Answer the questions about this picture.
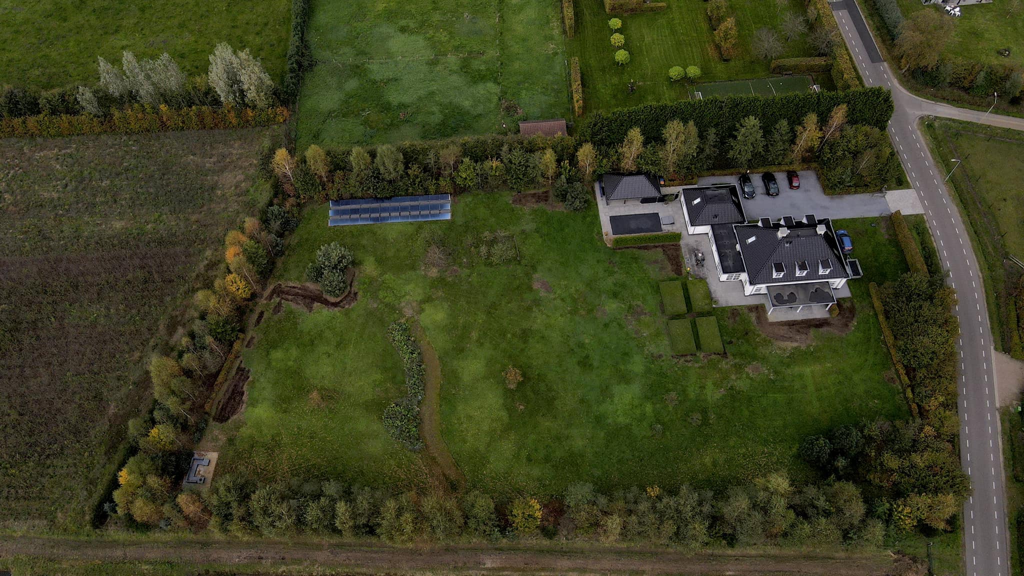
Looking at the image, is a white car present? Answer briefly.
No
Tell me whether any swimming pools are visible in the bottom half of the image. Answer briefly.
No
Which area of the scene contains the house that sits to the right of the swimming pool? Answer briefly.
right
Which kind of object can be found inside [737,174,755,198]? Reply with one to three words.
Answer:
car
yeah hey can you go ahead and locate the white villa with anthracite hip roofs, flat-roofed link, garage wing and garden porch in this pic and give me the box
[681,183,852,315]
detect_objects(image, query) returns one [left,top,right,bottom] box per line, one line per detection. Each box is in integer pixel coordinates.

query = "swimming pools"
[608,211,663,236]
